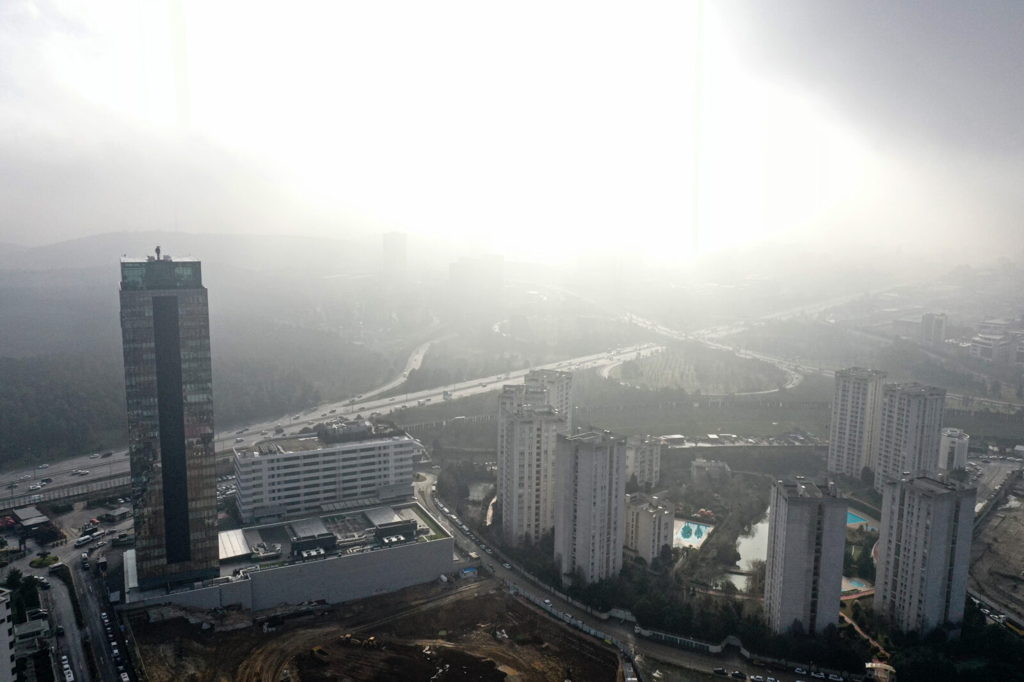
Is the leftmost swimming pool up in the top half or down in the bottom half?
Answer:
bottom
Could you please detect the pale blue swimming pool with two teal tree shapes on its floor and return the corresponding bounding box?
[675,521,711,544]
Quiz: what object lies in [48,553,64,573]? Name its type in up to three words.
vehicle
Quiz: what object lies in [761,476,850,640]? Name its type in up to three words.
building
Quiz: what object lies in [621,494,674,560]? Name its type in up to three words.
building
